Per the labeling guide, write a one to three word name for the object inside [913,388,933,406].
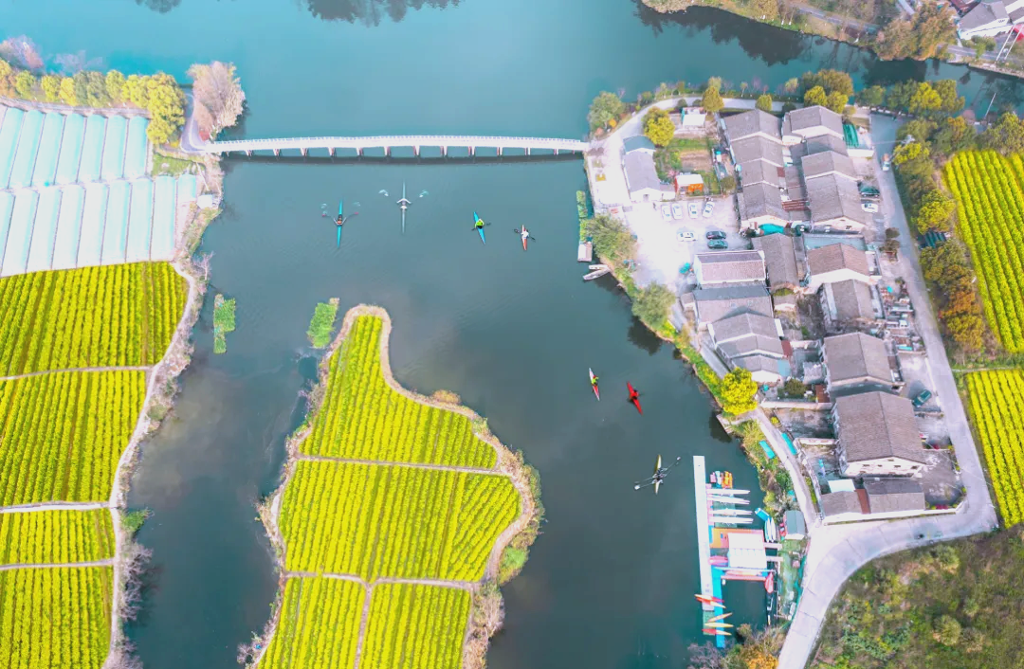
car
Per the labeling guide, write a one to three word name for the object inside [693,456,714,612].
pier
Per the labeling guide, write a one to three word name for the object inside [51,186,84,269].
greenhouse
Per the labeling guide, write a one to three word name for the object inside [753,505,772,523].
boat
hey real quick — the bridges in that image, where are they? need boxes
[203,135,587,156]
